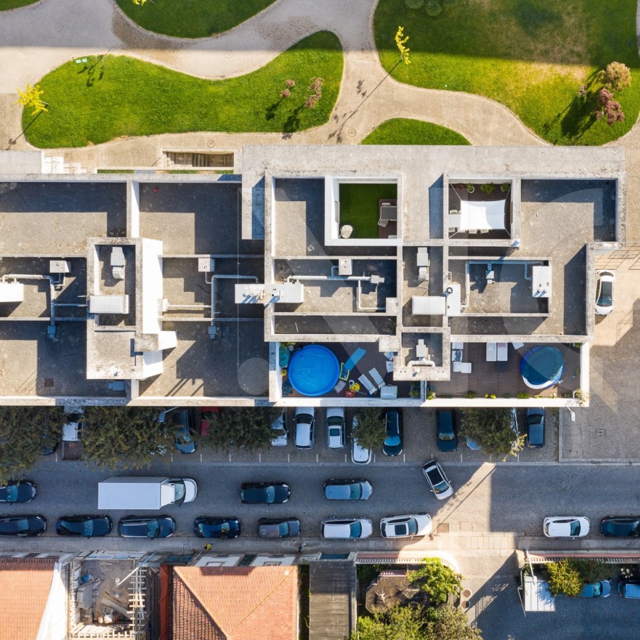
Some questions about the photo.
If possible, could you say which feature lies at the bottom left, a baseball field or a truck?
truck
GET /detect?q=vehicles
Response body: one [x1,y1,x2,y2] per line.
[524,406,549,448]
[323,477,373,503]
[117,515,178,541]
[599,515,640,541]
[175,406,198,455]
[434,406,460,453]
[349,414,373,463]
[381,406,406,456]
[595,269,618,316]
[380,513,432,540]
[543,515,590,541]
[321,515,373,541]
[258,516,301,541]
[570,578,615,604]
[59,406,85,441]
[240,481,291,507]
[34,407,62,455]
[292,406,317,449]
[268,406,289,446]
[0,479,37,505]
[0,513,49,539]
[99,477,208,510]
[56,514,114,540]
[193,515,242,541]
[422,459,454,502]
[322,406,348,450]
[617,578,640,603]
